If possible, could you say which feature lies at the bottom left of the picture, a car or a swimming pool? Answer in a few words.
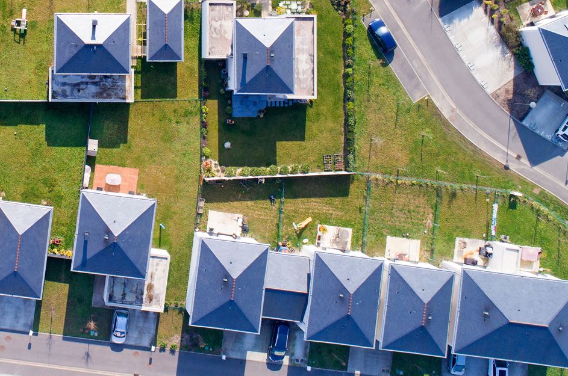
car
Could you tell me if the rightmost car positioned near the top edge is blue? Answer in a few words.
Yes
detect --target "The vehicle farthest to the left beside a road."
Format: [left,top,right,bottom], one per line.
[111,309,130,344]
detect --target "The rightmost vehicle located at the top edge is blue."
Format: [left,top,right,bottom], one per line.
[369,18,396,54]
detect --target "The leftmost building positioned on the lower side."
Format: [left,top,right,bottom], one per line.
[0,201,53,299]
